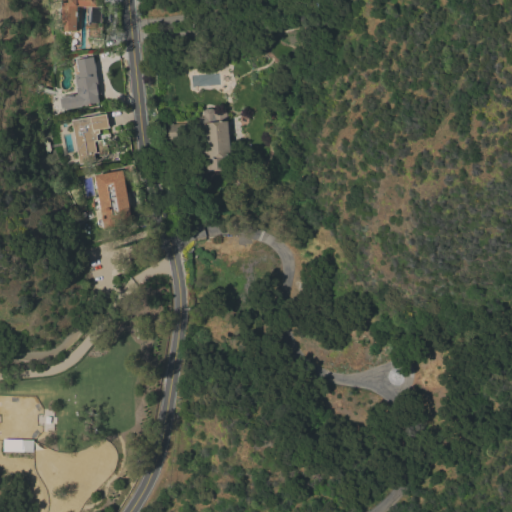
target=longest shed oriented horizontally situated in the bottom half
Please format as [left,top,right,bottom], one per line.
[3,440,35,453]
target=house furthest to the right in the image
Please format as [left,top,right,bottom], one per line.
[202,104,230,173]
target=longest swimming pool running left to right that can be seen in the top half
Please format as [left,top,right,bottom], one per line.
[192,74,222,87]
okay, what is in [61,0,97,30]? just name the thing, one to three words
house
